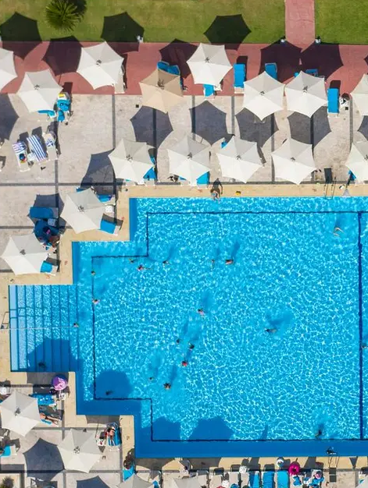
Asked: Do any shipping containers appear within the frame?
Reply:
No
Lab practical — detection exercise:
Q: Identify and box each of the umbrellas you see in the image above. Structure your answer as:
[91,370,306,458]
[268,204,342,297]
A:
[346,141,368,184]
[218,138,263,182]
[243,74,285,120]
[271,138,316,186]
[18,69,65,114]
[283,69,328,115]
[0,49,19,90]
[352,74,368,114]
[170,135,213,182]
[60,188,107,233]
[114,473,155,488]
[142,67,186,112]
[2,232,49,276]
[187,43,233,86]
[57,428,104,473]
[79,45,125,91]
[108,137,155,182]
[0,390,42,436]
